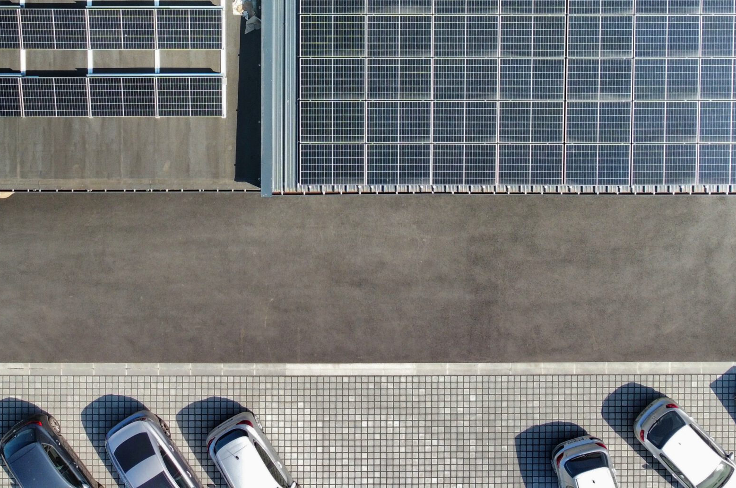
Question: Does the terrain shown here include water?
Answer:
No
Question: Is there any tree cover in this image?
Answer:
No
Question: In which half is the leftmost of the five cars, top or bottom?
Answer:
bottom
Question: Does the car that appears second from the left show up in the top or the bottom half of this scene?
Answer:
bottom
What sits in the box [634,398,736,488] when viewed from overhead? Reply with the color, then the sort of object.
white car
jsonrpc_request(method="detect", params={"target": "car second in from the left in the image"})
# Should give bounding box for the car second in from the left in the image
[106,414,201,488]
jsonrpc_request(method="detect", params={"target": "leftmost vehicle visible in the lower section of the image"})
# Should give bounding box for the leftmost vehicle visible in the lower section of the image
[0,414,100,488]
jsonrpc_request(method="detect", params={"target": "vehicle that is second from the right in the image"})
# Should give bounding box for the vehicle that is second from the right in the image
[553,440,623,488]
